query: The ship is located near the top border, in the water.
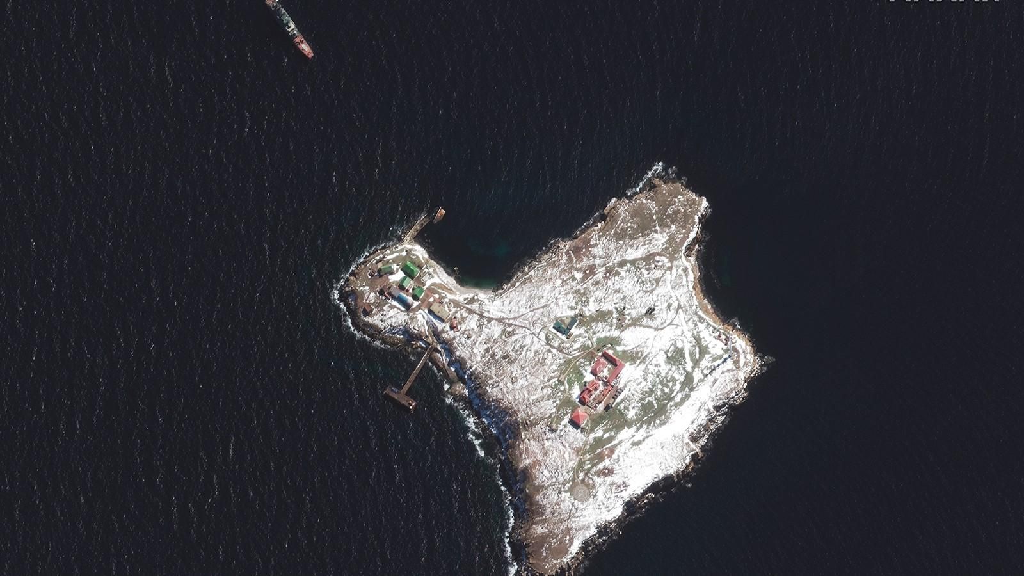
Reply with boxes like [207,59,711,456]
[268,0,313,57]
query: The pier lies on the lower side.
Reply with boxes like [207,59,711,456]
[384,345,434,411]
